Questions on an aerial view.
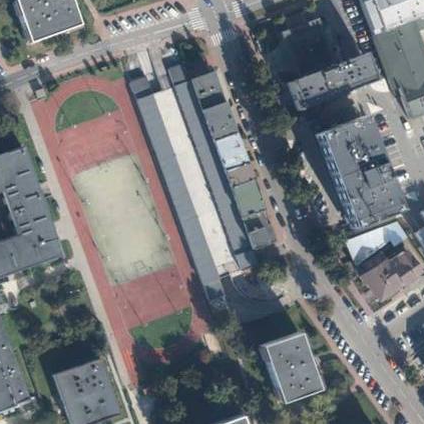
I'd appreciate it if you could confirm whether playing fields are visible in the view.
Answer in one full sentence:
Yes, this view includes a playing field.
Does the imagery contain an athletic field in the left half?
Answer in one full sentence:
Yes, there is an athletic field in the left half.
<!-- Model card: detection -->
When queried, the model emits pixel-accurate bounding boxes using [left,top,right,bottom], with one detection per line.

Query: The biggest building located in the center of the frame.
[132,83,245,280]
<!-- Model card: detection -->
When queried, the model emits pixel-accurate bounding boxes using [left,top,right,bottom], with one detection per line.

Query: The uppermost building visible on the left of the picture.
[13,0,84,43]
